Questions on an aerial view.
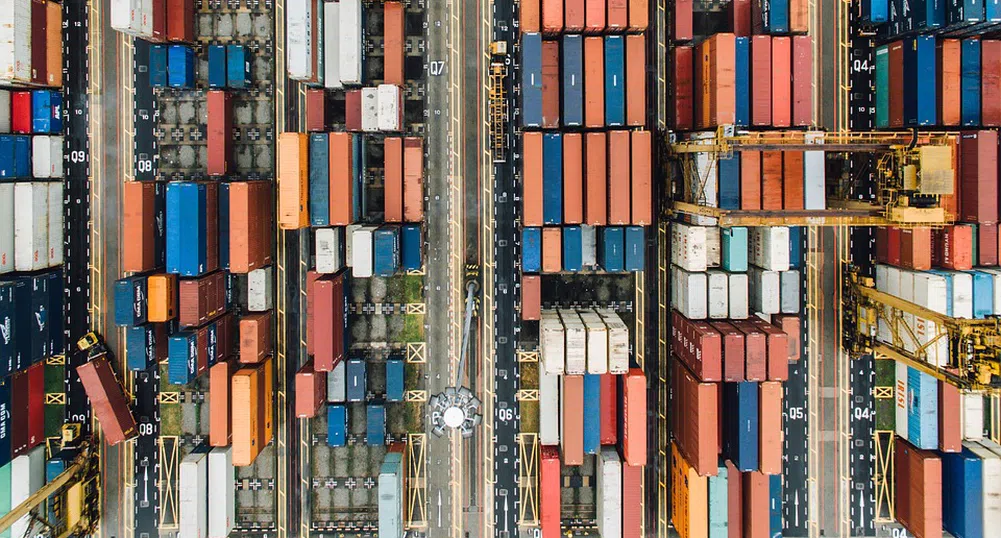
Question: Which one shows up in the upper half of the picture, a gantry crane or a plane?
gantry crane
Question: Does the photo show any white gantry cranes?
No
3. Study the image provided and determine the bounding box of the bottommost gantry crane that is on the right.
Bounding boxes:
[841,271,1001,403]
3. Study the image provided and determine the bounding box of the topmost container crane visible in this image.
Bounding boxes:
[651,125,955,224]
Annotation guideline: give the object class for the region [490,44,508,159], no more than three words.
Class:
vehicle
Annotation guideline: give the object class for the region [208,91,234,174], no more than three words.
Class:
shipping container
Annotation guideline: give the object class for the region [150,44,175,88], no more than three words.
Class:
shipping container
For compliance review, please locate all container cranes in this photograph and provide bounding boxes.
[0,441,103,538]
[841,271,1001,403]
[651,125,955,224]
